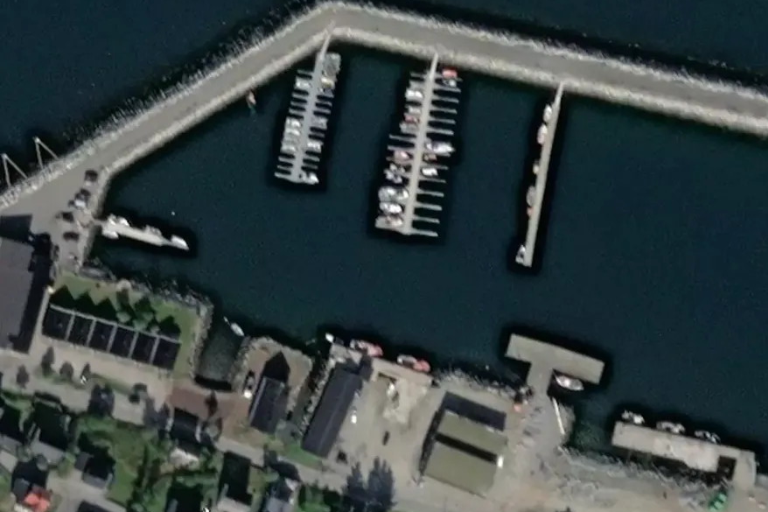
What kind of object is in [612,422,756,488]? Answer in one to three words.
pier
